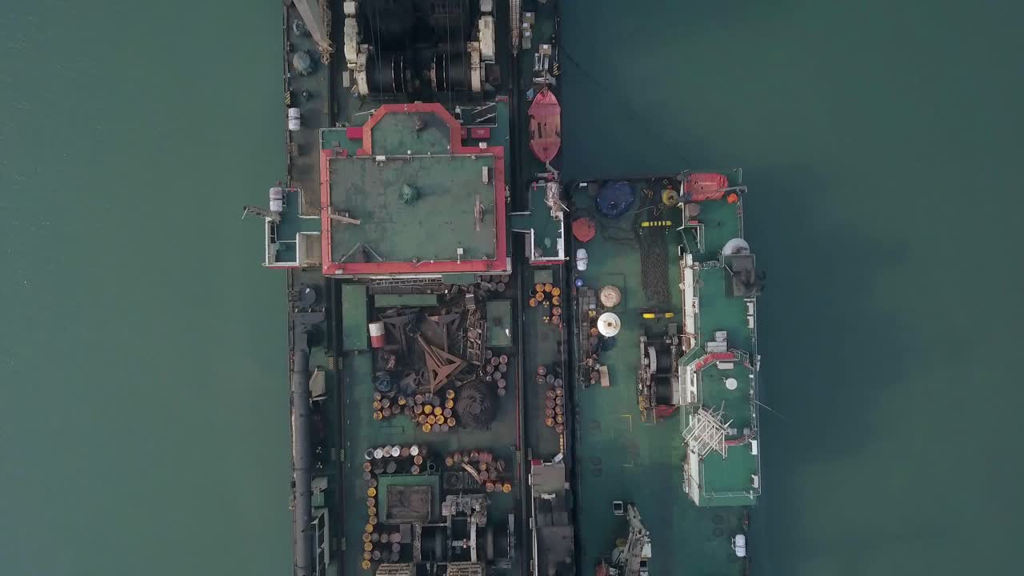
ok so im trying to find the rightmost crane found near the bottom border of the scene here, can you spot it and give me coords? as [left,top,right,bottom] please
[593,502,652,576]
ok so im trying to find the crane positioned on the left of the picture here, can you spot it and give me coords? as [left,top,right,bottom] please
[292,0,334,64]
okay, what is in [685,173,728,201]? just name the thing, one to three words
boat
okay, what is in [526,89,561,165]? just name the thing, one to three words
boat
